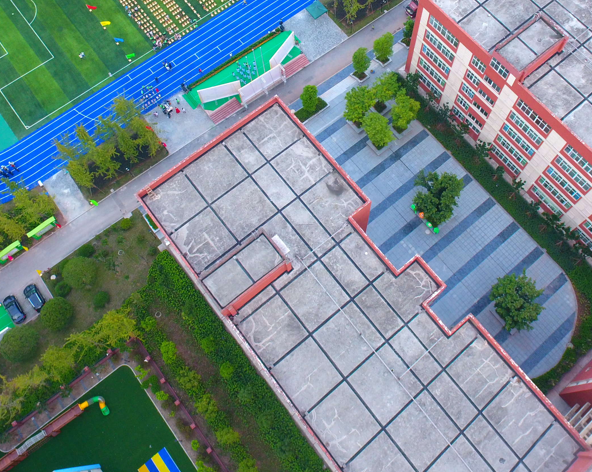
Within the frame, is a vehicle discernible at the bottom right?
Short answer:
No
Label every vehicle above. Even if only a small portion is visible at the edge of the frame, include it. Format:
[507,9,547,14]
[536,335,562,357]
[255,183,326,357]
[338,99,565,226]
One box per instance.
[400,0,421,15]
[24,281,47,315]
[4,293,28,326]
